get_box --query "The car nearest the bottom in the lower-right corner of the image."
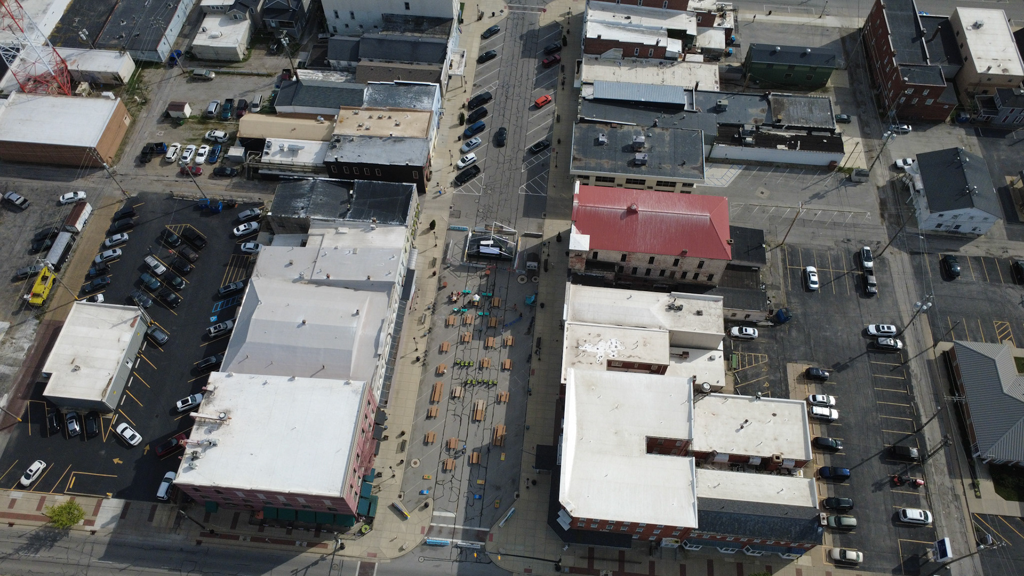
[830,548,862,565]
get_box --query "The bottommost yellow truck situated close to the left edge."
[25,268,56,307]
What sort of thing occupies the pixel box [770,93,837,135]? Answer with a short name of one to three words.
building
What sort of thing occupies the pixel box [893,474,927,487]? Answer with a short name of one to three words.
vehicle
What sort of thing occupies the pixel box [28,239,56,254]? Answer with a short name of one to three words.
car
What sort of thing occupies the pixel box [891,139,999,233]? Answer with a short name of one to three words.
house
